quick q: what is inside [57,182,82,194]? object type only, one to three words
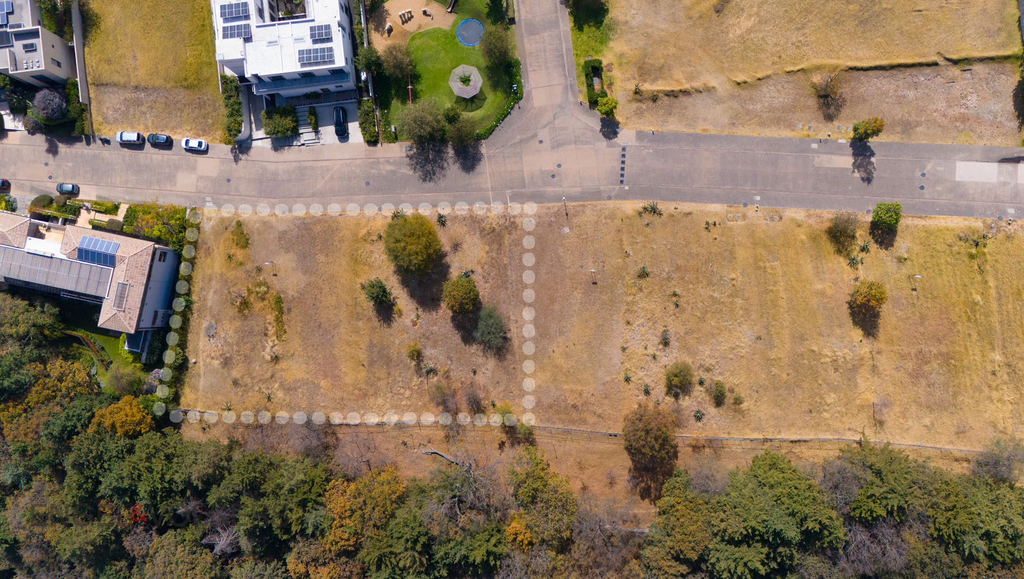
vehicle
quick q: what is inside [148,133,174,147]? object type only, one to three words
car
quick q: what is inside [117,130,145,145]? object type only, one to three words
car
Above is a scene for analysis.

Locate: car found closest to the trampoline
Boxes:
[334,107,348,136]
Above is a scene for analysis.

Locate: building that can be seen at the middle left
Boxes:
[0,212,174,362]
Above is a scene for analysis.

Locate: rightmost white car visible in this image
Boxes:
[181,137,209,151]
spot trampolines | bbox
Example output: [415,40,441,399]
[456,18,484,46]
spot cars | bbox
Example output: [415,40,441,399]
[57,182,82,194]
[334,107,348,136]
[117,130,145,145]
[148,133,174,147]
[181,137,209,151]
[0,179,13,190]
